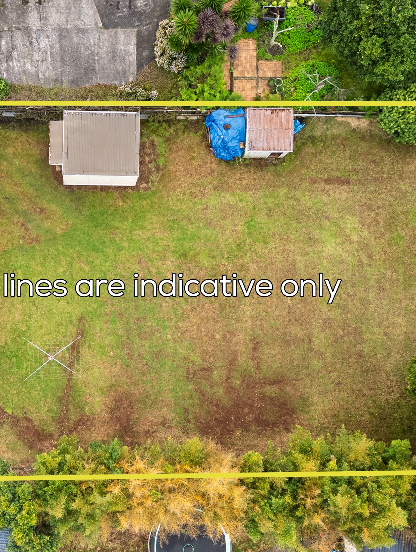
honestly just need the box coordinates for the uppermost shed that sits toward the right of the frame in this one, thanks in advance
[245,107,295,164]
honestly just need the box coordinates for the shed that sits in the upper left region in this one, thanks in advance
[49,109,141,186]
